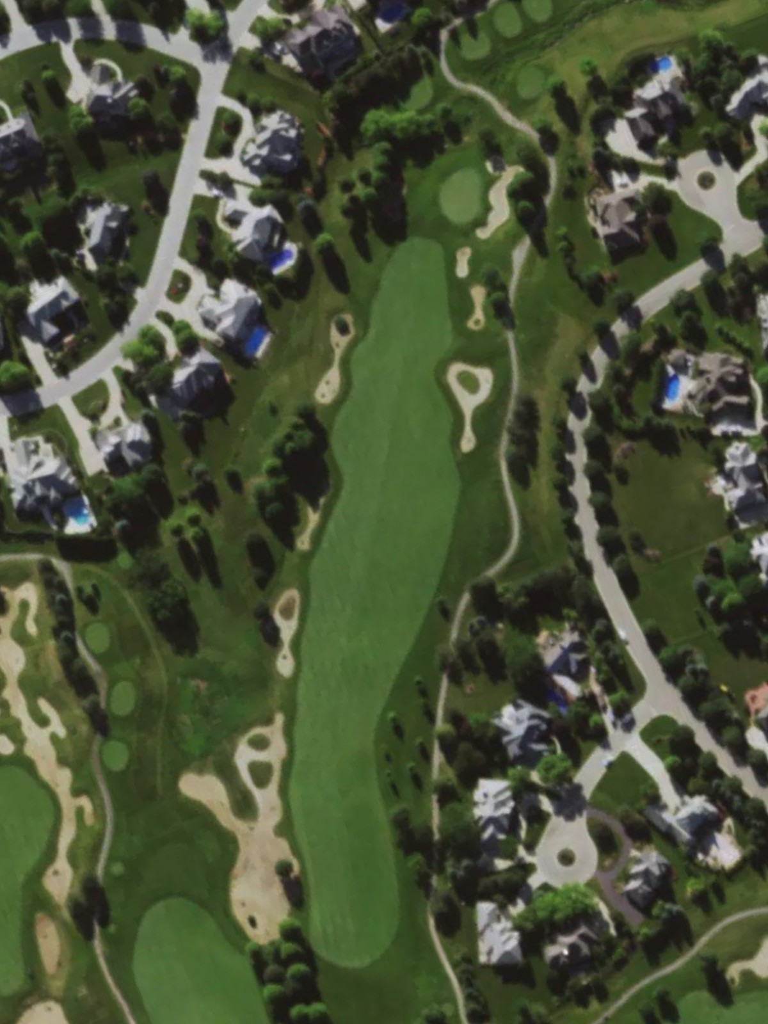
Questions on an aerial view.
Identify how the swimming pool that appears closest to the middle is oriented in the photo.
at an angle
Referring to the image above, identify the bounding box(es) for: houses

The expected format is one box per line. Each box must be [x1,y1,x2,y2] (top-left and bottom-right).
[284,2,367,83]
[717,436,768,532]
[748,530,768,589]
[224,196,290,264]
[473,899,524,972]
[534,625,594,689]
[82,198,133,264]
[719,61,768,129]
[619,845,675,910]
[476,775,519,857]
[538,920,609,978]
[685,345,756,426]
[9,438,85,519]
[239,110,305,178]
[495,693,556,764]
[621,78,695,151]
[152,350,228,423]
[756,294,768,347]
[84,75,144,132]
[592,189,647,255]
[196,274,269,344]
[92,420,156,475]
[0,116,44,180]
[17,271,89,348]
[644,789,729,851]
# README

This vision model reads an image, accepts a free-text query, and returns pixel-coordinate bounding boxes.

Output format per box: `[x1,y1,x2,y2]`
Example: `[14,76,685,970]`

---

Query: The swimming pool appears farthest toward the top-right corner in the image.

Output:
[651,56,672,72]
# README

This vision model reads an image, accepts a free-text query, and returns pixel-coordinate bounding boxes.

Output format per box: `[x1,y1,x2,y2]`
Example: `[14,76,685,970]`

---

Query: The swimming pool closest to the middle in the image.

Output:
[243,326,269,356]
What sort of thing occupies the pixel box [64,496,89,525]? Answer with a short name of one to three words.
swimming pool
